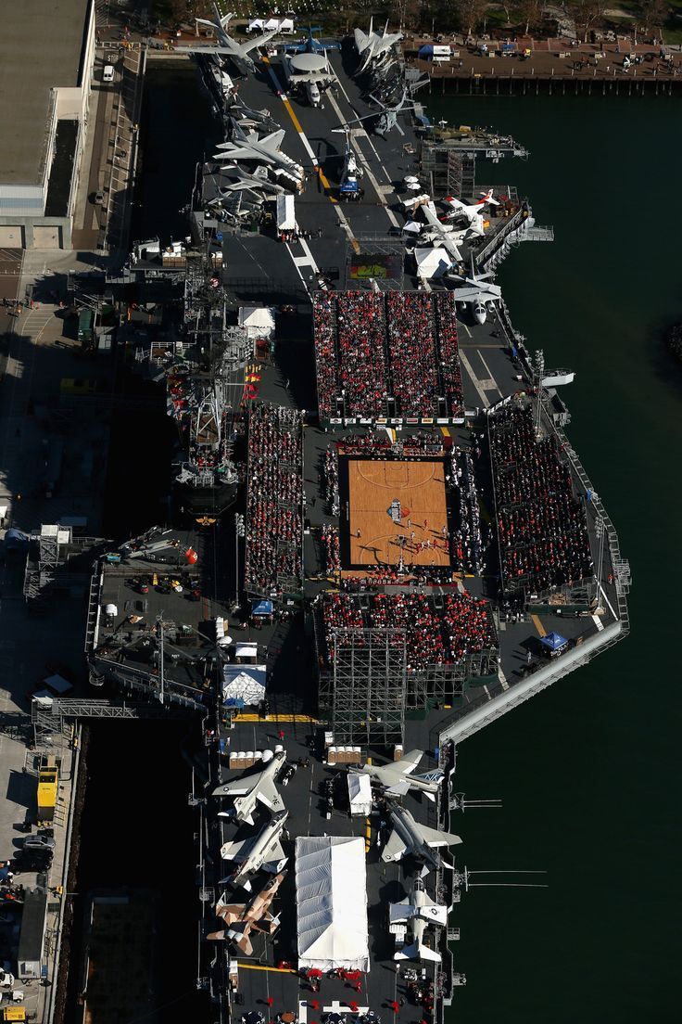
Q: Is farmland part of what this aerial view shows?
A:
No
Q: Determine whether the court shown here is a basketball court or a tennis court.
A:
basketball court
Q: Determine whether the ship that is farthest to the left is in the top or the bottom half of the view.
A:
bottom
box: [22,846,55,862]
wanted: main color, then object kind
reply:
black car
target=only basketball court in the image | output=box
[338,455,463,572]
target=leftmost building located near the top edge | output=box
[0,0,101,252]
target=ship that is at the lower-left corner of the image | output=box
[73,897,164,1024]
